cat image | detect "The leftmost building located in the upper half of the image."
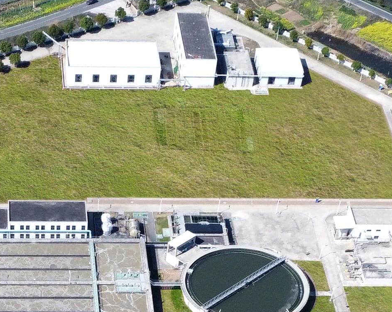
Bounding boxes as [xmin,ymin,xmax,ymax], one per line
[65,42,161,88]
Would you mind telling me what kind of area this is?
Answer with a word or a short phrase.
industrial area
